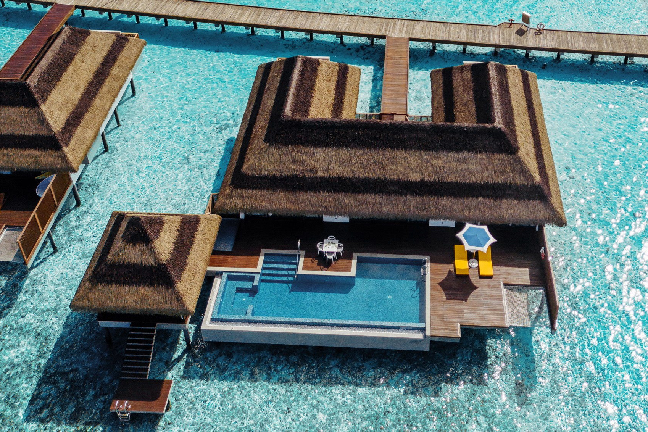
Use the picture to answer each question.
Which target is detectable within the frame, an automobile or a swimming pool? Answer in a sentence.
It is a swimming pool that can be seen here.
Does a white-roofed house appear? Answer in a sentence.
No, no white-roofed house can be seen from above.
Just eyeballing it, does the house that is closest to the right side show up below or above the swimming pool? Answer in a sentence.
From this view, the house that is closest to the right side can be seen above the swimming pool.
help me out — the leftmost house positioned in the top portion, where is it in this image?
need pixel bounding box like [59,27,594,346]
[0,24,147,214]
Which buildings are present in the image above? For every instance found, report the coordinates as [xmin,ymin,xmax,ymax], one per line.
[0,24,147,214]
[67,208,224,354]
[213,50,568,231]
